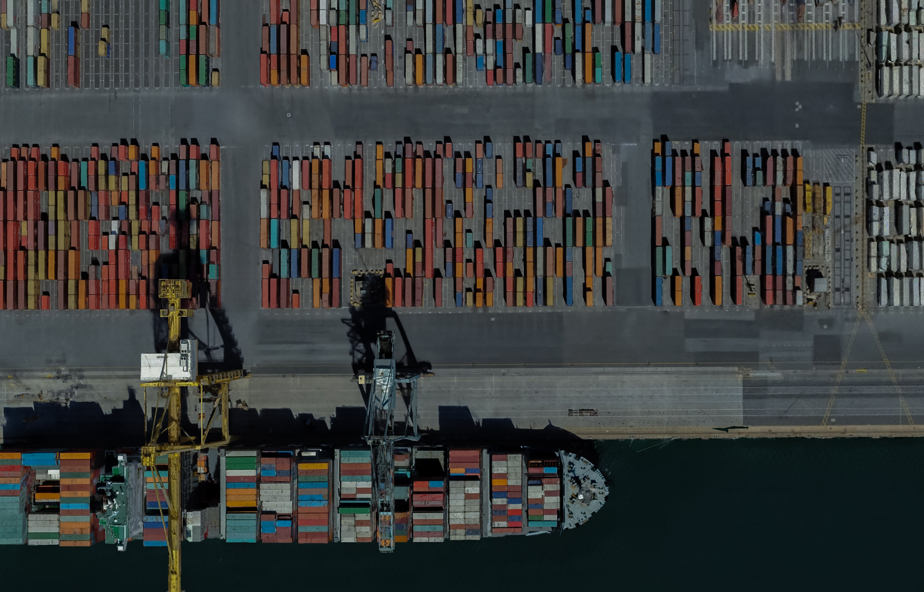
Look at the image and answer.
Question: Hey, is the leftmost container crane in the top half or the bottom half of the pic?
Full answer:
You can find the leftmost container crane in the bottom half.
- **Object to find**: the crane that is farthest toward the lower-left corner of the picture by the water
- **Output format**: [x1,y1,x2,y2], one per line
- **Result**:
[140,280,247,592]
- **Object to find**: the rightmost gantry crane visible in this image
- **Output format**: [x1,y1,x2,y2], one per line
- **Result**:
[342,332,437,553]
